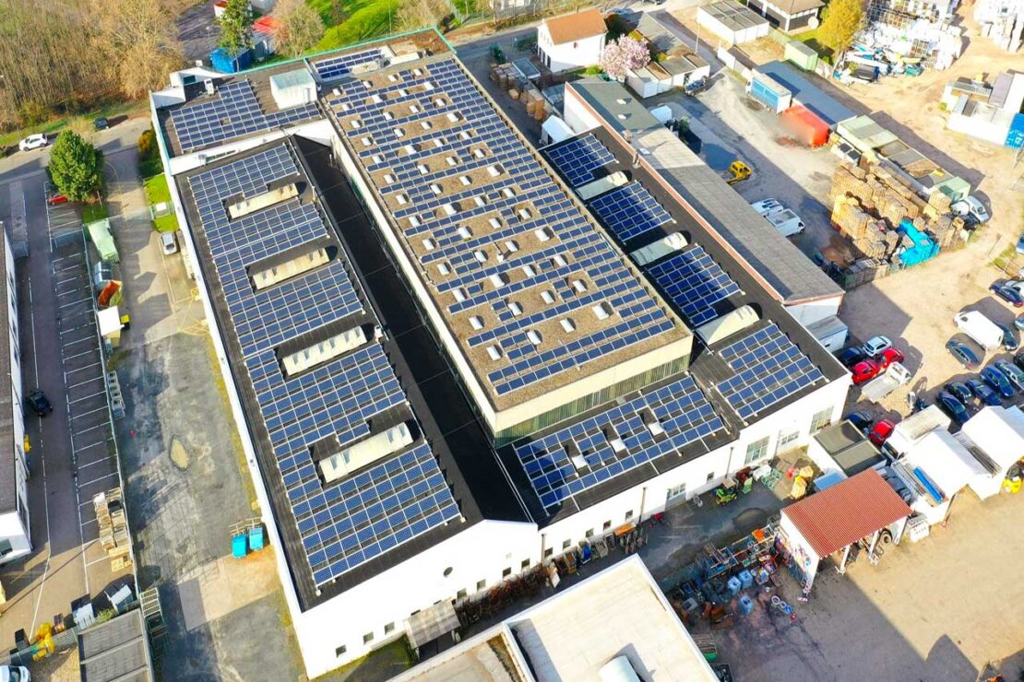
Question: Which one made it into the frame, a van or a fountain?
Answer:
van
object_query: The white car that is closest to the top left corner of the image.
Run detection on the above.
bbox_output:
[18,132,49,152]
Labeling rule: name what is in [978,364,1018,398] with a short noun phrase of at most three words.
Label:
car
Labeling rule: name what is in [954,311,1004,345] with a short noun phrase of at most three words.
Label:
van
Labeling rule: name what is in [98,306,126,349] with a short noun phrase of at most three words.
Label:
shed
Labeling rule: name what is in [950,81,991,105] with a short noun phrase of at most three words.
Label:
building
